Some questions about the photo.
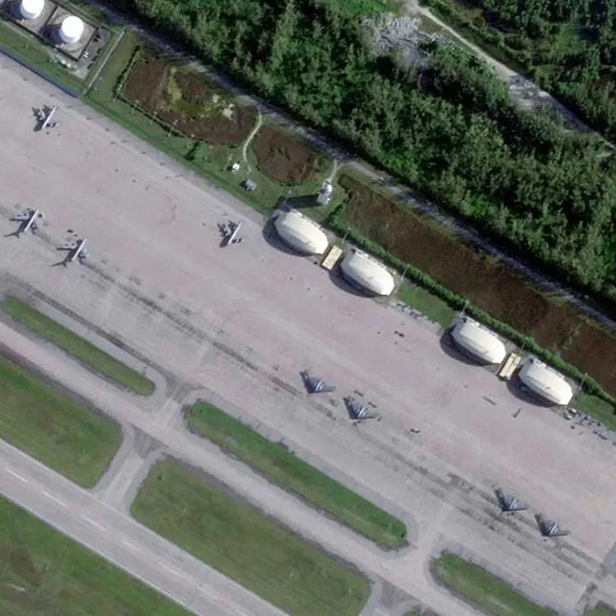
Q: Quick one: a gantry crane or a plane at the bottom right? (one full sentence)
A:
Visible at the bottom right is a plane.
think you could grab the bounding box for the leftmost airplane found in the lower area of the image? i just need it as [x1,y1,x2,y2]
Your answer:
[303,371,336,392]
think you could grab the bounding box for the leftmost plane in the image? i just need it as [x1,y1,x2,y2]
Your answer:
[10,209,41,237]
